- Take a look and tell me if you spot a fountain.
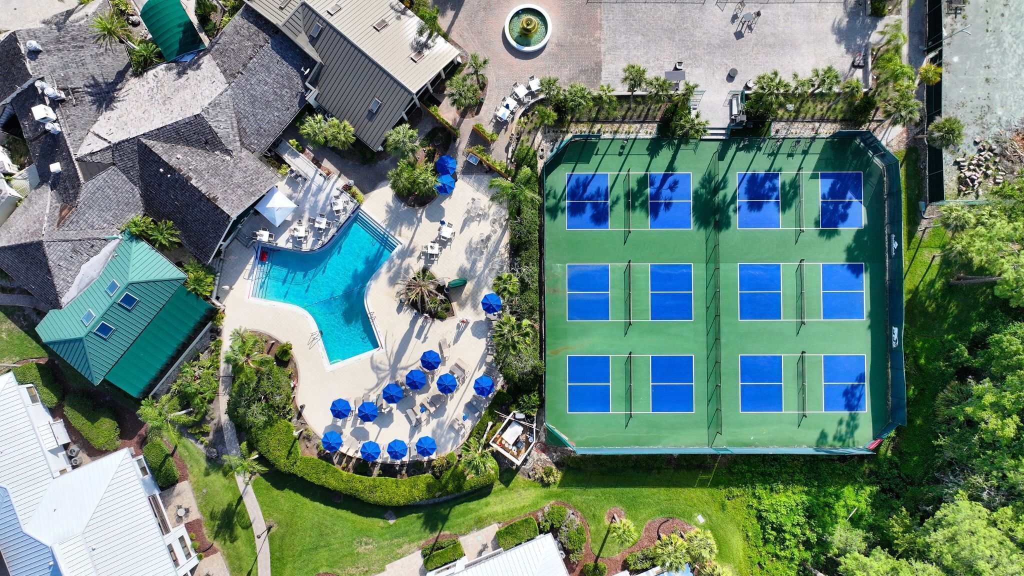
Yes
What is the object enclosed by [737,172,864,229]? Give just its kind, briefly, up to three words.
sports court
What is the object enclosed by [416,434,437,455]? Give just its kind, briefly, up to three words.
umbrella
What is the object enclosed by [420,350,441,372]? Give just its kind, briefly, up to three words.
umbrella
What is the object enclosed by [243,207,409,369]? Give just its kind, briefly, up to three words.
swimming pool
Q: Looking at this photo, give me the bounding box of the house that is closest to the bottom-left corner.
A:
[0,371,200,576]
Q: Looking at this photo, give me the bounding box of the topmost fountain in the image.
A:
[505,4,551,53]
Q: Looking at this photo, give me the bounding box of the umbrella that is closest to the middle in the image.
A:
[480,293,501,315]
